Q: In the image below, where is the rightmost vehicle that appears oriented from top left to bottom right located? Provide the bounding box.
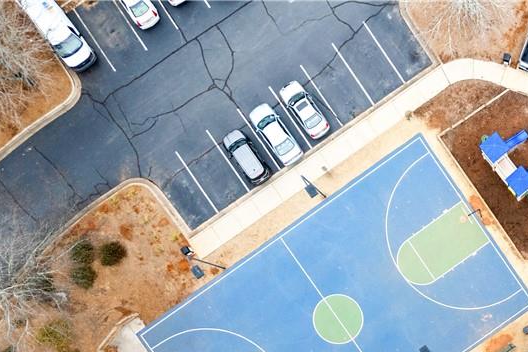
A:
[281,80,331,144]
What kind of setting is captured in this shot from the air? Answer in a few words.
sports ground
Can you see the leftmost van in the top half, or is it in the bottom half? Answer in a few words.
top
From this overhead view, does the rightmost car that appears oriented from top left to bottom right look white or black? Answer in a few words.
white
